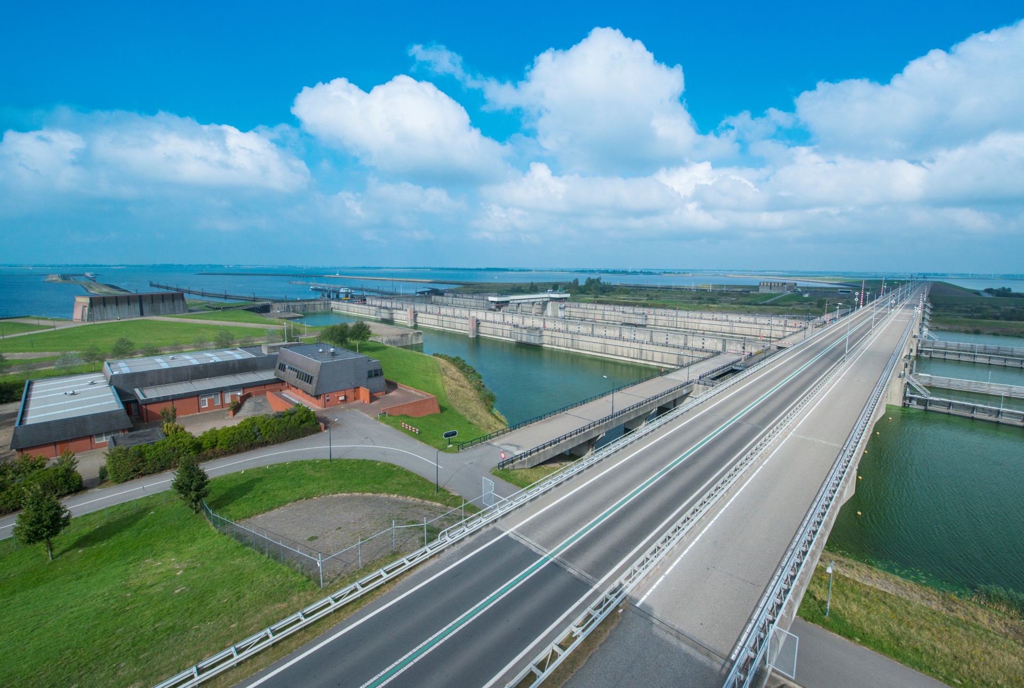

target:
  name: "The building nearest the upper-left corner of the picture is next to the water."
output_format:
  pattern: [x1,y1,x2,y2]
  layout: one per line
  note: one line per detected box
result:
[73,292,187,321]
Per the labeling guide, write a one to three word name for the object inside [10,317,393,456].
building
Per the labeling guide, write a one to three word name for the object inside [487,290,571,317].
building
